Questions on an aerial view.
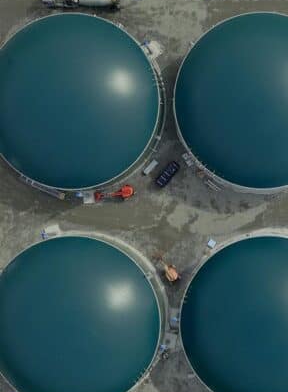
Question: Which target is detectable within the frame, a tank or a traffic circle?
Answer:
tank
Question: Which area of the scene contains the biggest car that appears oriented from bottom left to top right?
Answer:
center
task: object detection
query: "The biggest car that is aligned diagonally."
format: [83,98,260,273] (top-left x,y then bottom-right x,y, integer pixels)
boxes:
[154,161,181,188]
